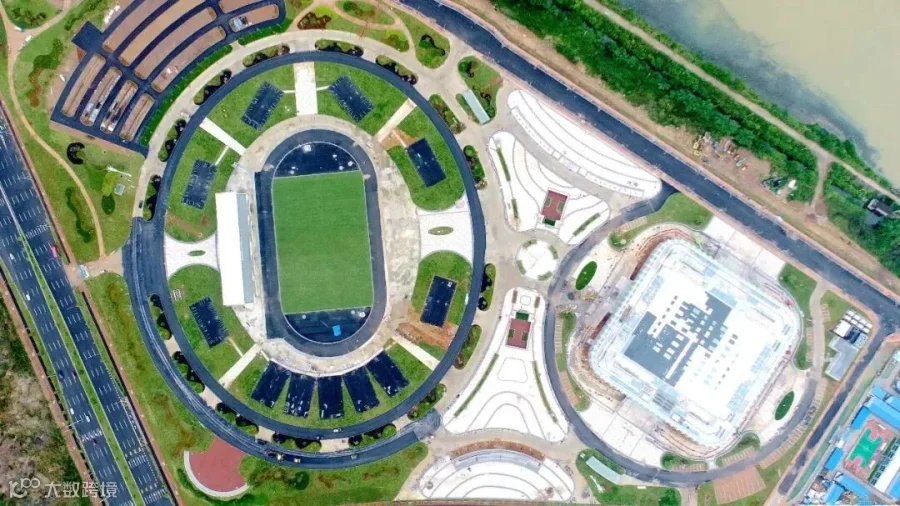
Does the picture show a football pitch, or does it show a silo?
football pitch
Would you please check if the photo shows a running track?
Yes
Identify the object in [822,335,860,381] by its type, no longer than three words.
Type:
building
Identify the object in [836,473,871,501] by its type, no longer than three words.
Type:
building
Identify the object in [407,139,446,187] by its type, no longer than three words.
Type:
sports court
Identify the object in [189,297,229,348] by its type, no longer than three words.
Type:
sports court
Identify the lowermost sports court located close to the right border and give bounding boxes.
[845,418,896,481]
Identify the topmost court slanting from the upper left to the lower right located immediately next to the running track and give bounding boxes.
[330,76,374,120]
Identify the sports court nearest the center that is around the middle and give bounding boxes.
[420,275,457,328]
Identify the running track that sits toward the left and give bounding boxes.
[250,128,388,357]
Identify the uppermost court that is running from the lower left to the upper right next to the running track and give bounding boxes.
[241,81,284,129]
